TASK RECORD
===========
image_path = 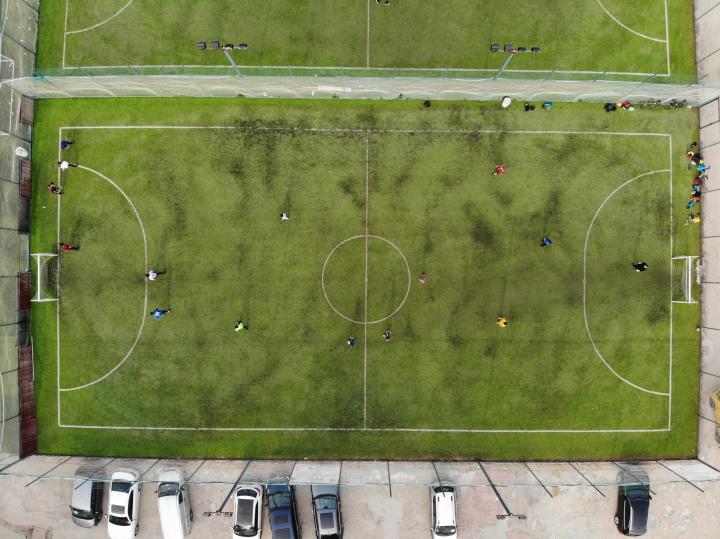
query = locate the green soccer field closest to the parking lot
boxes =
[34,97,700,459]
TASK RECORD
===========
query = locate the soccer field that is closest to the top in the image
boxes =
[34,0,700,106]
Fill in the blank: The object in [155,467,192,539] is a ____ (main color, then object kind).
white van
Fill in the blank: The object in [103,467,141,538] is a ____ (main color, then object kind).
white car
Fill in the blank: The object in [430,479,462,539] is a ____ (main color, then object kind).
white car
